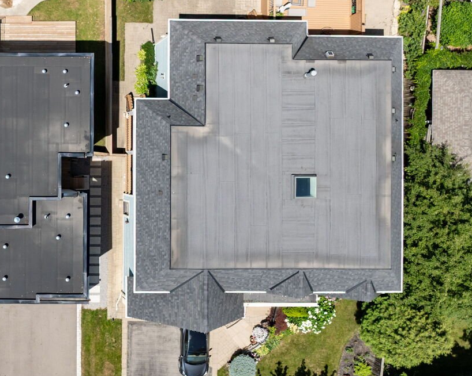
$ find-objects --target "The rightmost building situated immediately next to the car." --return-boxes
[122,17,405,332]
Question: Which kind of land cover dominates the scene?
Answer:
buildings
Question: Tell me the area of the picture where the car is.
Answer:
bottom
